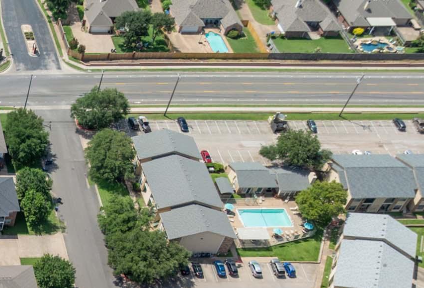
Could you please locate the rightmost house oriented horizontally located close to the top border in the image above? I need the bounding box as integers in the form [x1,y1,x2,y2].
[332,0,416,35]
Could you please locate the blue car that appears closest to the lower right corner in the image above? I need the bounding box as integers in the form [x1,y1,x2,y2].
[283,261,296,279]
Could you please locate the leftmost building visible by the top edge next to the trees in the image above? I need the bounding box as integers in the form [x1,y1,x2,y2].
[85,0,146,34]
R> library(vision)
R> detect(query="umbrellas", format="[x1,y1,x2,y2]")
[271,227,283,236]
[224,203,235,211]
[303,223,315,230]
